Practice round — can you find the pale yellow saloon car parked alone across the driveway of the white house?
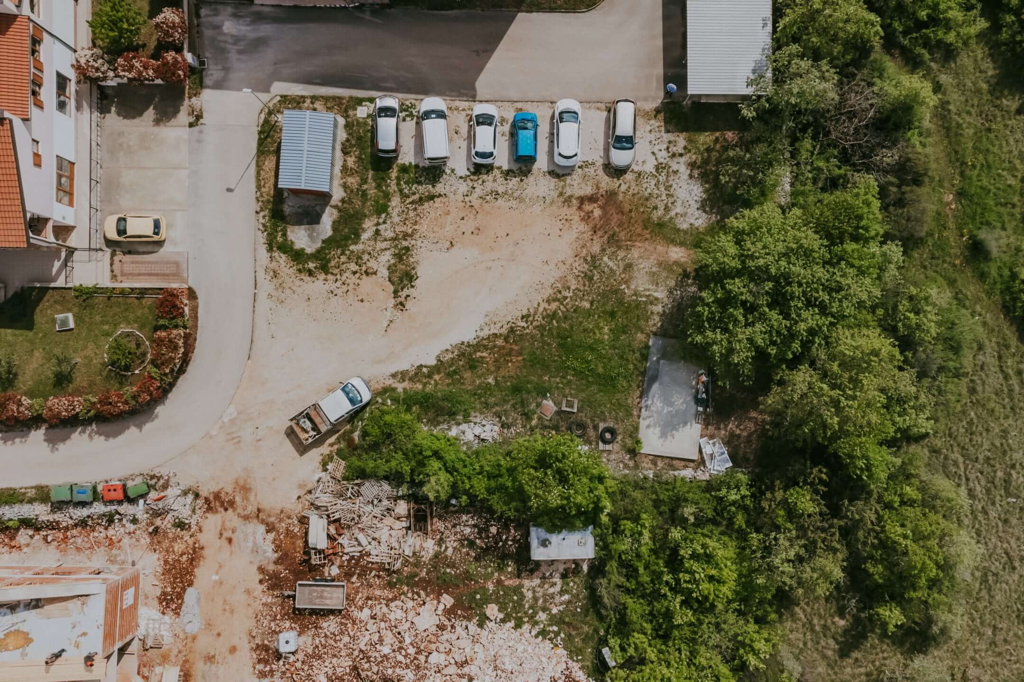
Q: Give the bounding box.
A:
[100,212,165,244]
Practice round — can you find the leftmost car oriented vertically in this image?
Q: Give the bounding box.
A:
[371,96,403,160]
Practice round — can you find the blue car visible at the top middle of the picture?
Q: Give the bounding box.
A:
[511,111,540,163]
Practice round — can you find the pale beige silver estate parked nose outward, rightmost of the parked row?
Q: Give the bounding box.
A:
[608,98,641,168]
